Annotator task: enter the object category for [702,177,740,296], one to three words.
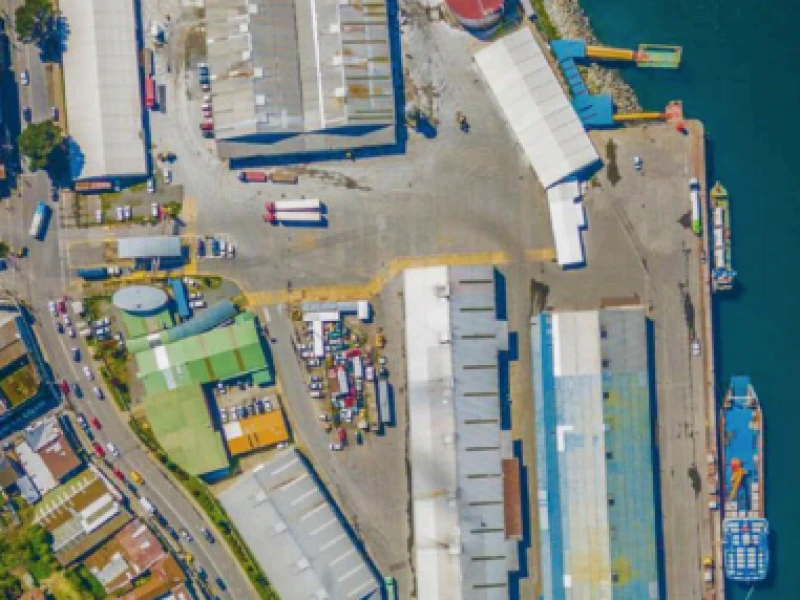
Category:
ship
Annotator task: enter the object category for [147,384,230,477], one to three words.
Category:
building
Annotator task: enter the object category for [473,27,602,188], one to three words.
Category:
warehouse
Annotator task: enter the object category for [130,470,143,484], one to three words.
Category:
vehicle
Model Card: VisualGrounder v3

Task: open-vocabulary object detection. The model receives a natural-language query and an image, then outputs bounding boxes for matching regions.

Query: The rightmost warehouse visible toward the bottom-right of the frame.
[530,306,660,600]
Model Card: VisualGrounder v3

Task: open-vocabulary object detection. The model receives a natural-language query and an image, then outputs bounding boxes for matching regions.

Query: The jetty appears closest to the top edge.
[630,44,683,70]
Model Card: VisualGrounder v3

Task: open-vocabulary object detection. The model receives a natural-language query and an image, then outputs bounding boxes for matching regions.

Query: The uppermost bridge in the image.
[586,43,634,59]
